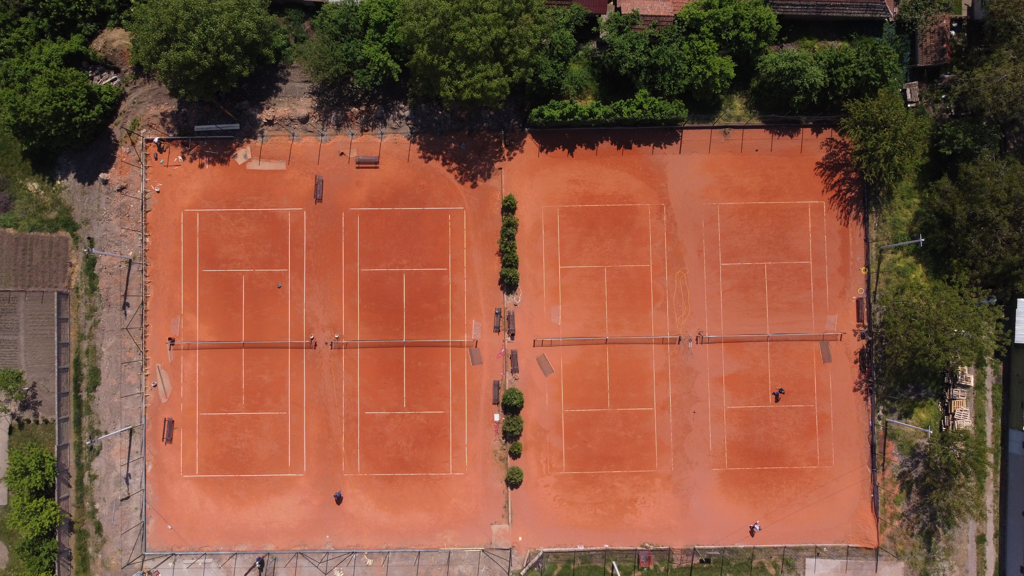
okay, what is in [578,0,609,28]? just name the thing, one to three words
house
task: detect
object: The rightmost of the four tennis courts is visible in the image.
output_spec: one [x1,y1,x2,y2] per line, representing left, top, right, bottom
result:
[699,198,837,470]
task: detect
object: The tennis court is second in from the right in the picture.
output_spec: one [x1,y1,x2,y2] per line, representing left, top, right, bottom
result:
[539,202,676,477]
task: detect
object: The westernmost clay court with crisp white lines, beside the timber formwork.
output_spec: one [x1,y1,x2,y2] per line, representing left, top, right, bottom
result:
[178,207,309,479]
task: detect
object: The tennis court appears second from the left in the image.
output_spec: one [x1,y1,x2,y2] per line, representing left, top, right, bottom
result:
[340,206,470,475]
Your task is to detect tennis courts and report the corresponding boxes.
[699,198,837,470]
[539,202,676,477]
[340,206,470,475]
[178,207,309,479]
